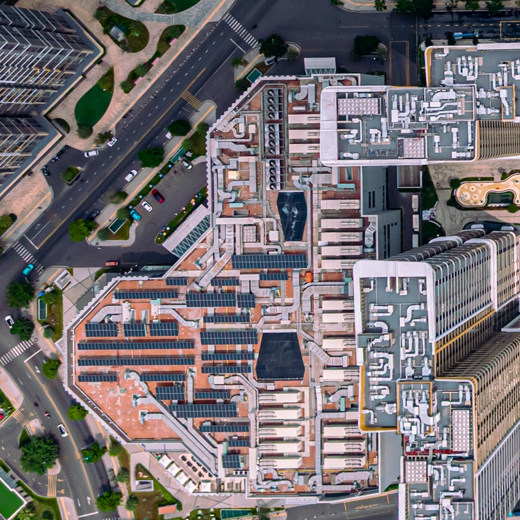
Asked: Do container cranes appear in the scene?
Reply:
No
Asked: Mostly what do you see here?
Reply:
buildings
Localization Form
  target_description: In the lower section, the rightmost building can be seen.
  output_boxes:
[354,220,520,520]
